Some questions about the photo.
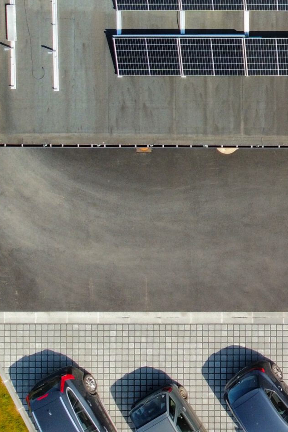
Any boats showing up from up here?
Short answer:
No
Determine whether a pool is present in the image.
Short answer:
No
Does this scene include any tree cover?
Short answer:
No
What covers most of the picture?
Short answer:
paved ground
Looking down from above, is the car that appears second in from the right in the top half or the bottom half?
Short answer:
bottom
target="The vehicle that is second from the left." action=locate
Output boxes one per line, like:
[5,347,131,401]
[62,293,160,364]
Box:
[129,383,205,432]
